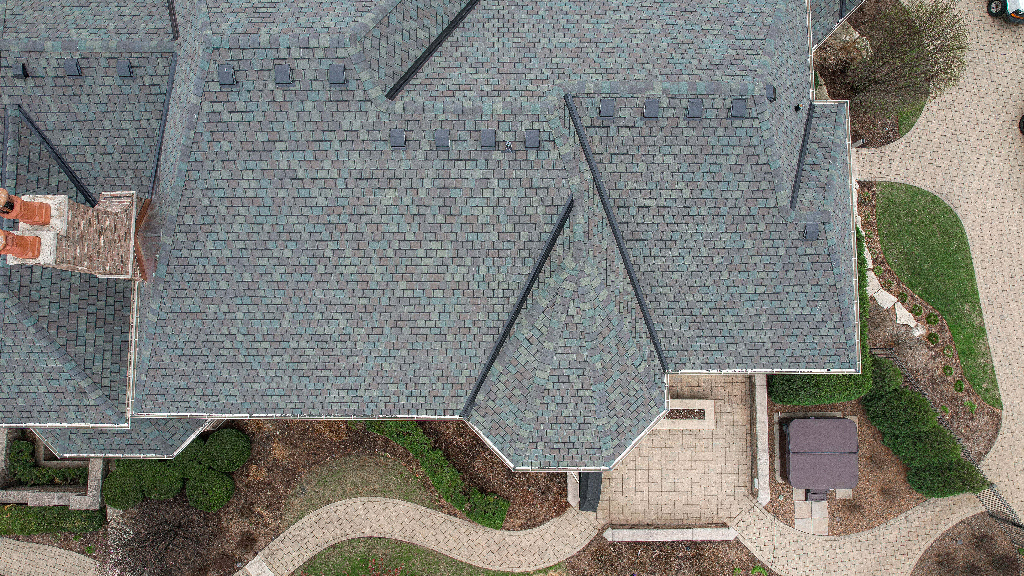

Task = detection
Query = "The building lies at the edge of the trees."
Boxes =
[0,0,871,486]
